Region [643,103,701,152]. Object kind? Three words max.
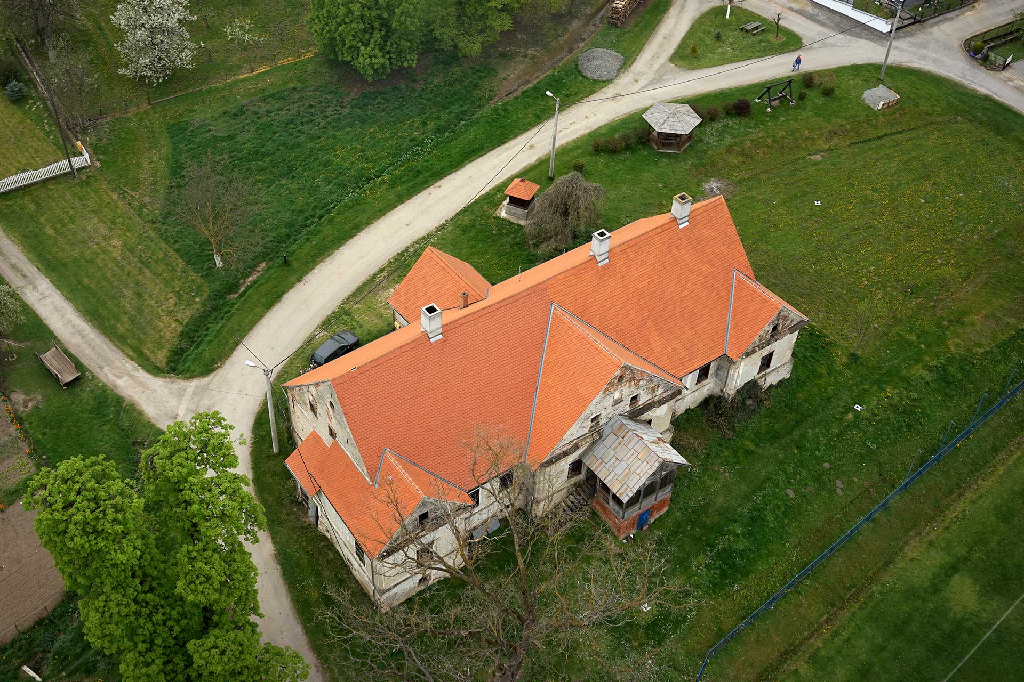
gazebo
